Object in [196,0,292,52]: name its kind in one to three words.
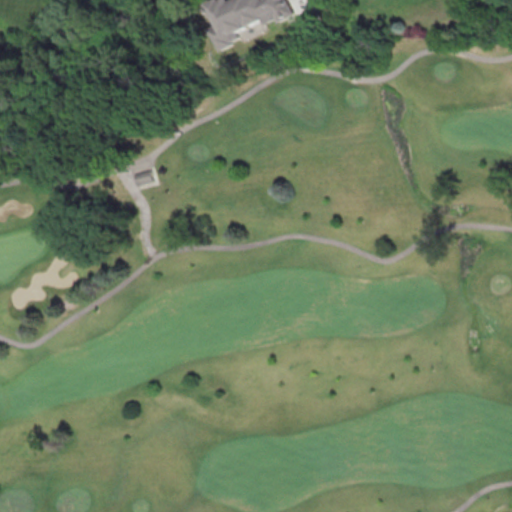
building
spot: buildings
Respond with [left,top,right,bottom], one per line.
[133,169,154,186]
[196,0,292,52]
